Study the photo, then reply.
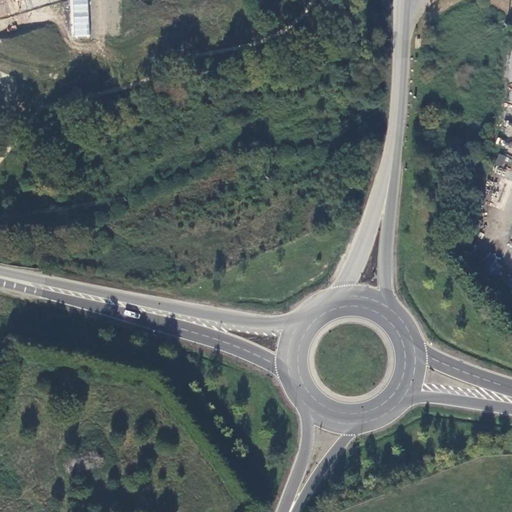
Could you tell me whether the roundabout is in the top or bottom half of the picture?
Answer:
bottom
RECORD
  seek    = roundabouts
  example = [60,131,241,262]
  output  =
[276,284,426,434]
